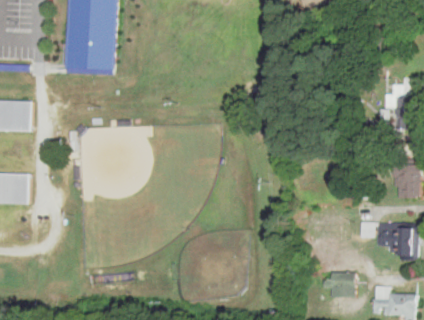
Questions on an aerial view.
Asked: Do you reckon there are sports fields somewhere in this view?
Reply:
Yes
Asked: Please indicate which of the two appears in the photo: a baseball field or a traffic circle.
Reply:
baseball field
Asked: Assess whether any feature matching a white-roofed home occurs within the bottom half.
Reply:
Yes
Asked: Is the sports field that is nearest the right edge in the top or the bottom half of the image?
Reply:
bottom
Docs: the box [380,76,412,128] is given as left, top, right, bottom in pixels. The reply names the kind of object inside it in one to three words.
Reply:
house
